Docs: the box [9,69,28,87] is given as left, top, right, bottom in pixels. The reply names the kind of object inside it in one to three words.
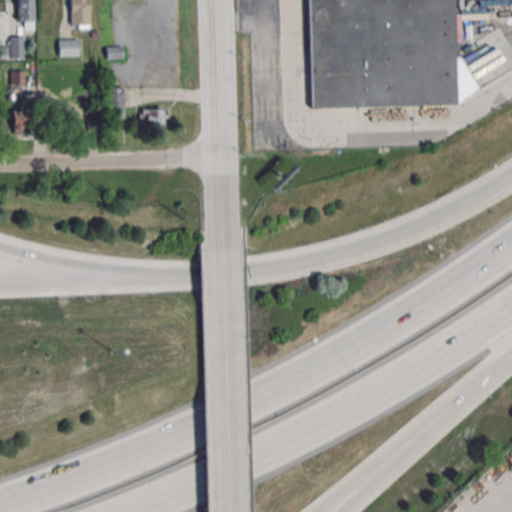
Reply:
house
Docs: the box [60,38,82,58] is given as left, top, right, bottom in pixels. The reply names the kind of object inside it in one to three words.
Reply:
building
